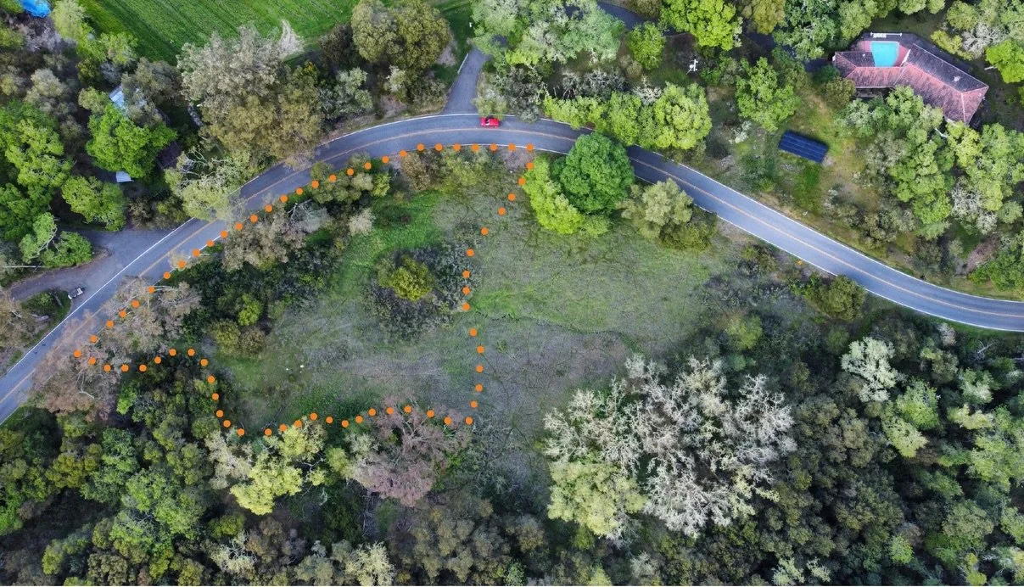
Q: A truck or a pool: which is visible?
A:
pool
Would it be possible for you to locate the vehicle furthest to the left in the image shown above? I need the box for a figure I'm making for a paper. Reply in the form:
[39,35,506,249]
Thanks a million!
[64,286,84,300]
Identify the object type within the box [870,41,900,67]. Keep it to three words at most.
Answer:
swimming pool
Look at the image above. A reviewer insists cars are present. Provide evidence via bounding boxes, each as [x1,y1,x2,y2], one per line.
[64,286,84,300]
[480,118,499,127]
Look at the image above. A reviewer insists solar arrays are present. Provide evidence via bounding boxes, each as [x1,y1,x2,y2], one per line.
[779,131,828,162]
